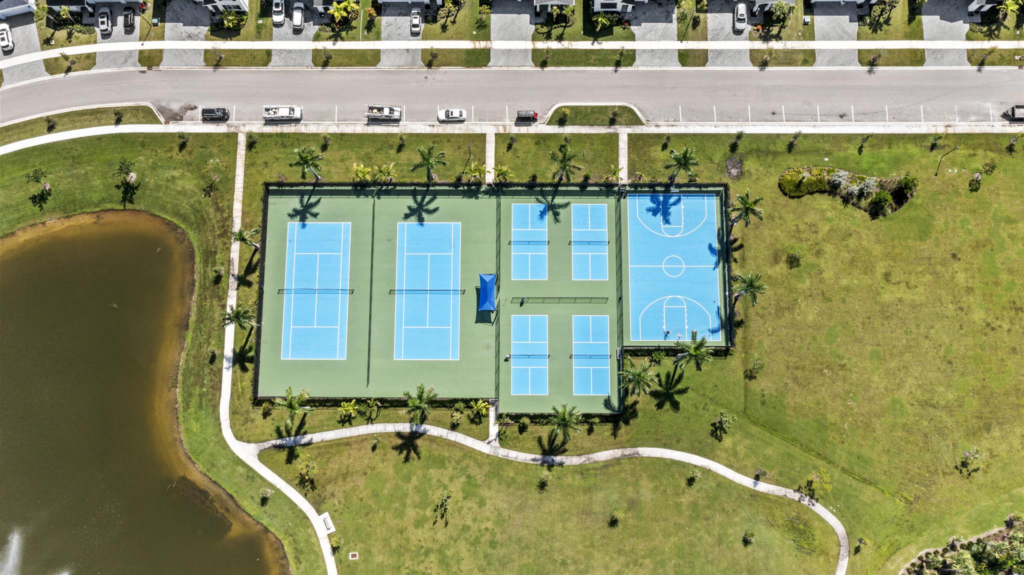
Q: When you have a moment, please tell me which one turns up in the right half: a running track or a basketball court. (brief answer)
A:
basketball court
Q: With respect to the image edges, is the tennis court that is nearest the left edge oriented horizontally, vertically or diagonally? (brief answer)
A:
vertically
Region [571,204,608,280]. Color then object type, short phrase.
blue sports court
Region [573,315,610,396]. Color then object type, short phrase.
blue sports court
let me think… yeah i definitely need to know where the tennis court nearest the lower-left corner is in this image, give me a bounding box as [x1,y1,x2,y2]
[281,222,351,360]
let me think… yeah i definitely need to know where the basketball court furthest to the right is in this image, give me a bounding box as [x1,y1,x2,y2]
[627,194,721,341]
